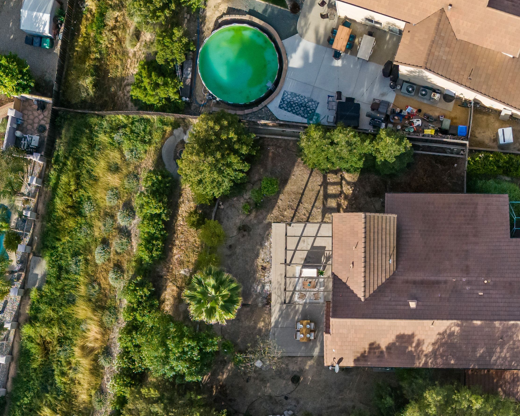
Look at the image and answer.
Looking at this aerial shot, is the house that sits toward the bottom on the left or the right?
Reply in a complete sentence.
The house that sits toward the bottom sits on the right side.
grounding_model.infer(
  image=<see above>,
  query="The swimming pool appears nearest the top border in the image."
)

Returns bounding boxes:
[197,22,283,108]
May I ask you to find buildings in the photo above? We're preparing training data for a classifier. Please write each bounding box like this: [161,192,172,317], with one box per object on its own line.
[323,193,520,403]
[334,0,520,114]
[20,0,61,39]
